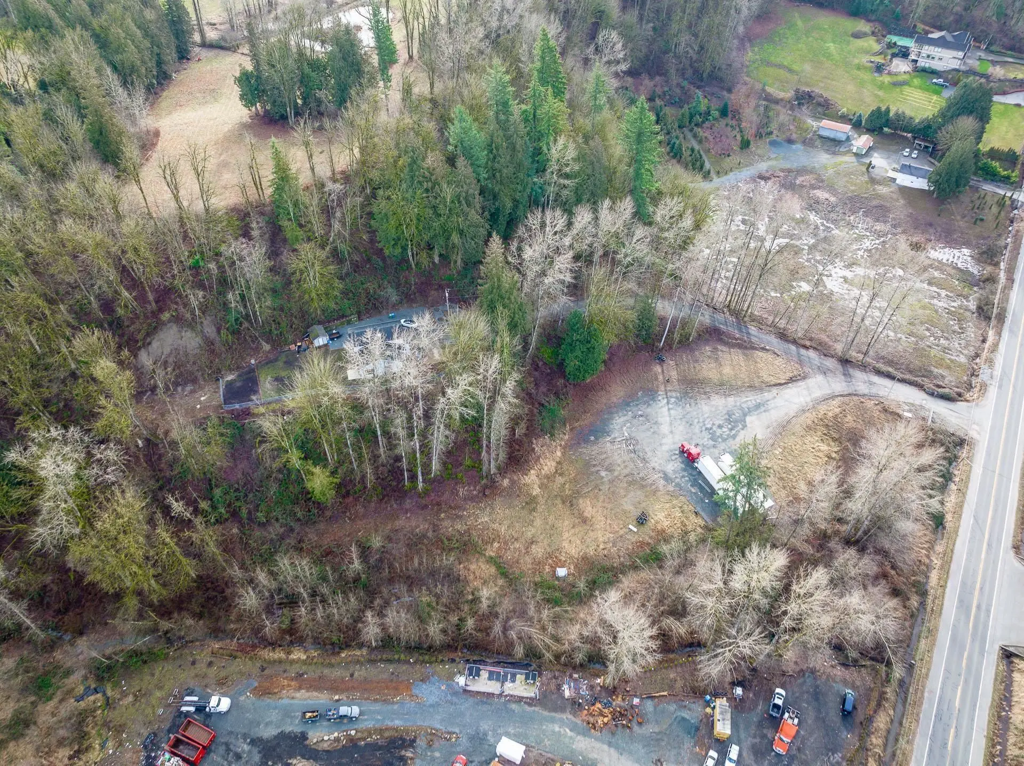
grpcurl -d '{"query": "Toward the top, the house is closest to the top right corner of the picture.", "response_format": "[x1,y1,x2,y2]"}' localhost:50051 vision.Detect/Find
[910,28,973,72]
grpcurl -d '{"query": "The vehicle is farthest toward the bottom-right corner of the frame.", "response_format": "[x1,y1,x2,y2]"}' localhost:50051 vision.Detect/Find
[840,689,856,715]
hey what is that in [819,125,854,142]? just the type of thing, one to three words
barn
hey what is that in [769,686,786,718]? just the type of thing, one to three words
vehicle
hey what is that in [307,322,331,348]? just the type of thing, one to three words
shed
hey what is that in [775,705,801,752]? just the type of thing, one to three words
truck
